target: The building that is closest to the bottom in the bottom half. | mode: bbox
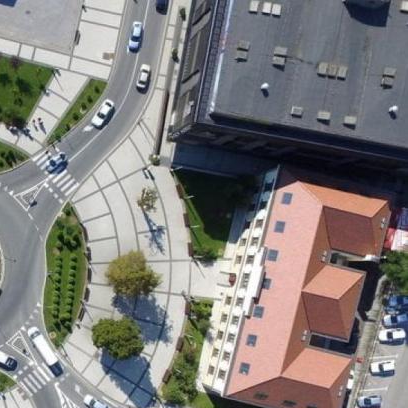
[204,163,395,408]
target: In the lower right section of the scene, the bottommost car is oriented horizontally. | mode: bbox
[355,394,381,407]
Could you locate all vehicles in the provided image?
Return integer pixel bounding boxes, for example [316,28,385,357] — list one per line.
[25,326,60,368]
[380,313,408,326]
[376,329,405,342]
[83,395,108,408]
[355,394,381,407]
[127,23,141,52]
[369,362,394,375]
[44,153,68,174]
[0,351,17,369]
[135,63,151,92]
[92,101,114,127]
[346,367,360,392]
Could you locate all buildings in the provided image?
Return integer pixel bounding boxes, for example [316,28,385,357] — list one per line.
[204,163,395,408]
[172,0,408,175]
